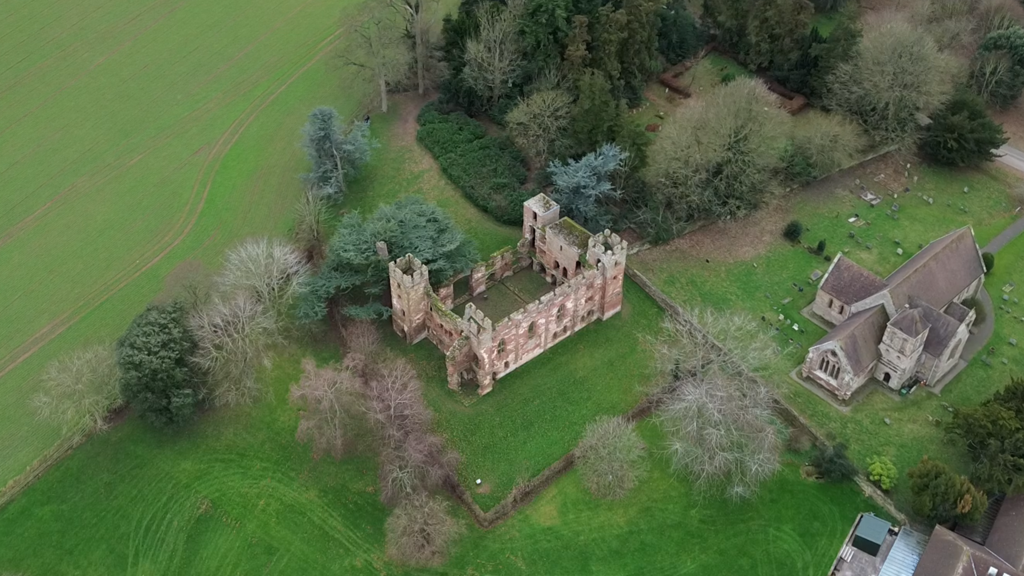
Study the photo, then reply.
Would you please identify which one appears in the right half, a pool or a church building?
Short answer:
church building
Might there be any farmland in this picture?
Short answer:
Yes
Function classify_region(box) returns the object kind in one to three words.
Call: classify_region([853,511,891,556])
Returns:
shed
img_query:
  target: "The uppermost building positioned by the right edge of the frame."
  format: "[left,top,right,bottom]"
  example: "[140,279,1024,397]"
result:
[798,225,989,403]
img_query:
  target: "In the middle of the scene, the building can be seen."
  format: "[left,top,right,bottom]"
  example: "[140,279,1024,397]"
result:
[387,191,631,407]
